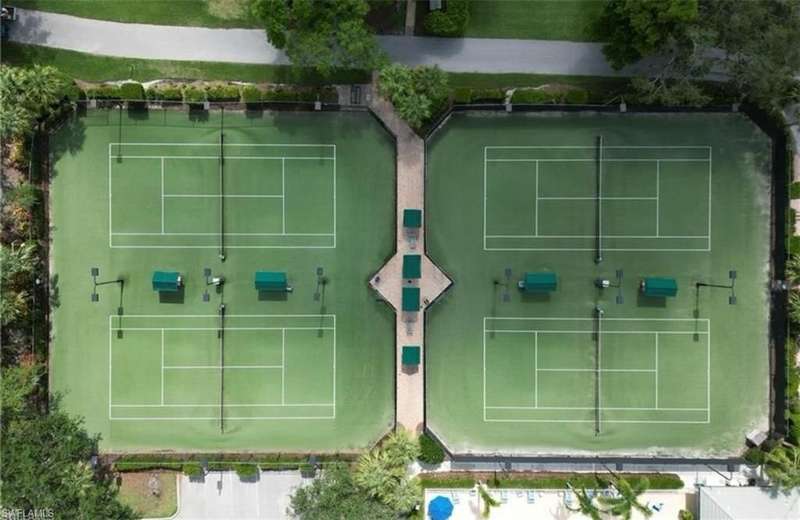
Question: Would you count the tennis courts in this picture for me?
four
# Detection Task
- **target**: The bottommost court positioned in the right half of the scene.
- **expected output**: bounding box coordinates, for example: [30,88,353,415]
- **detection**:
[427,284,770,457]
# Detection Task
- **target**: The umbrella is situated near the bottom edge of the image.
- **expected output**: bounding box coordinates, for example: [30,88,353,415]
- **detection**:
[428,494,453,520]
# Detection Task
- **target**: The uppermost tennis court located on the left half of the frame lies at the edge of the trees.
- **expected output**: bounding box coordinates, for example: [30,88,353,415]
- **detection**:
[49,108,396,282]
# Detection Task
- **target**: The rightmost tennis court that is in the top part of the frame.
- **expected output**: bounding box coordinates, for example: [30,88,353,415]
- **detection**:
[427,112,770,284]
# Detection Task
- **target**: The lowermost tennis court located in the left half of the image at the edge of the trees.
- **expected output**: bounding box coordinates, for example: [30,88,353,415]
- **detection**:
[49,282,396,454]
